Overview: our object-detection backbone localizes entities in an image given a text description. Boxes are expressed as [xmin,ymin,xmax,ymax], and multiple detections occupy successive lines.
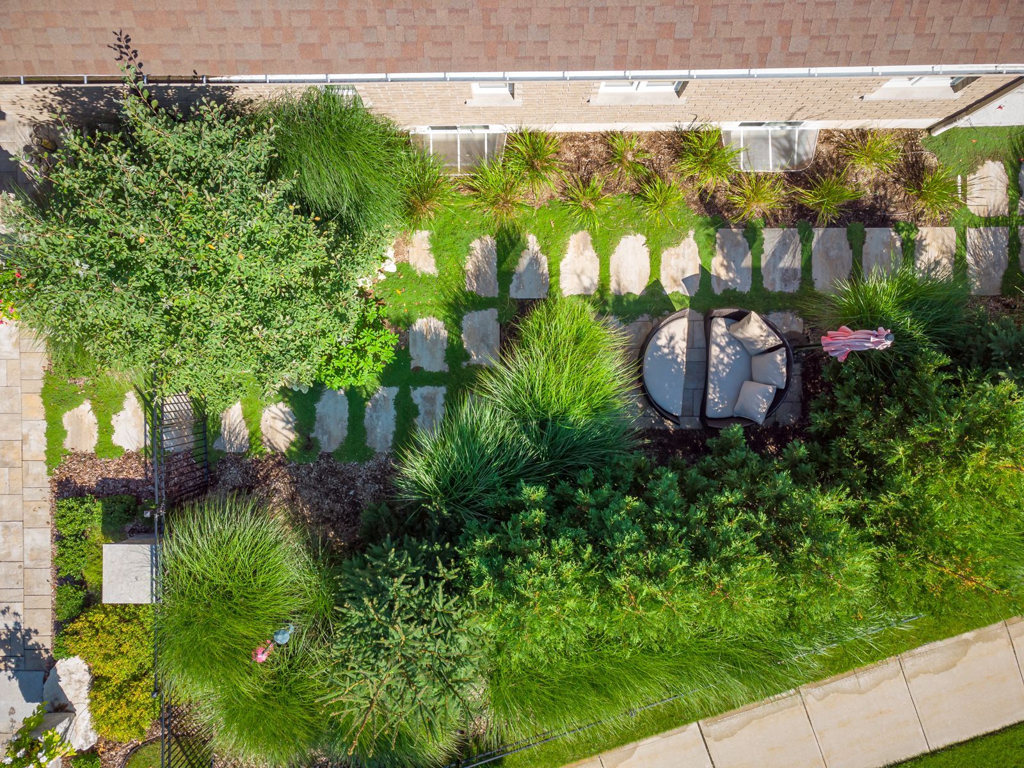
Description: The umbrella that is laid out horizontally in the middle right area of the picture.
[788,323,891,364]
